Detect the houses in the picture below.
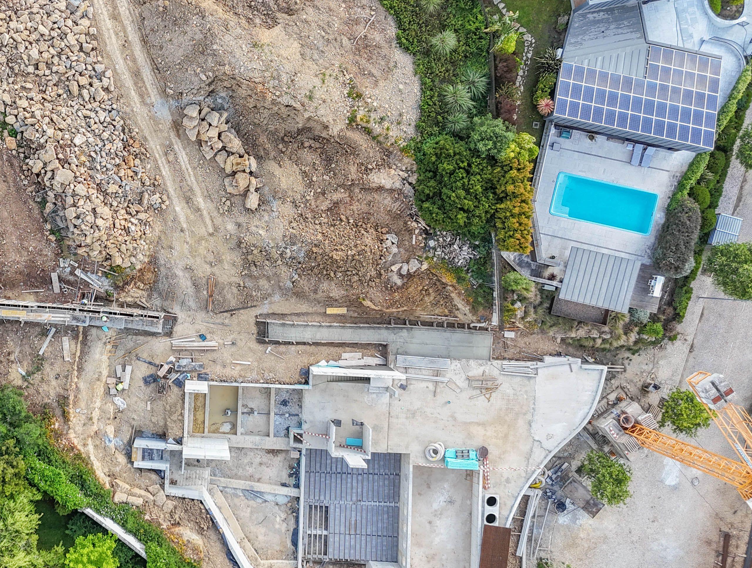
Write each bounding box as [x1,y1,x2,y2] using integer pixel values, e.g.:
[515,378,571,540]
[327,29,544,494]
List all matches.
[545,0,752,152]
[132,357,607,568]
